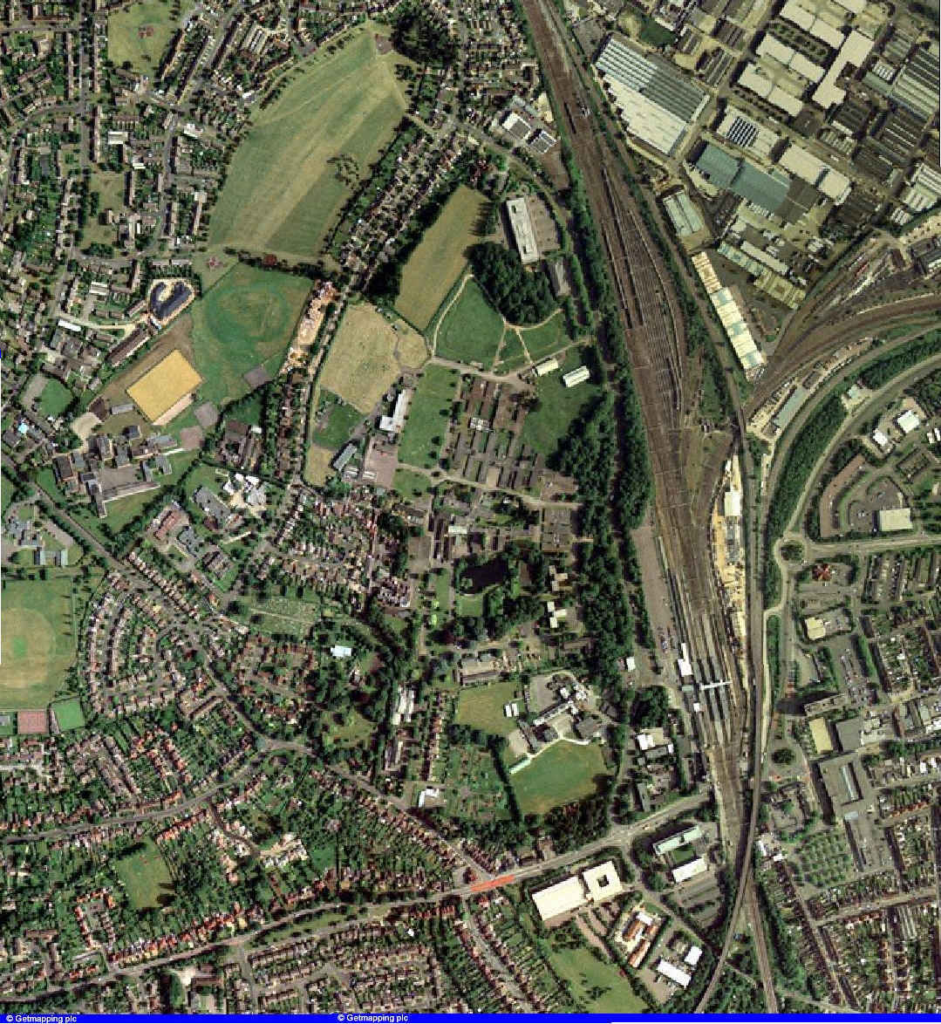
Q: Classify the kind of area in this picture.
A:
residential area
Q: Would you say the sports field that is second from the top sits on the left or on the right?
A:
left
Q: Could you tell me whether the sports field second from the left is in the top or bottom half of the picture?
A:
top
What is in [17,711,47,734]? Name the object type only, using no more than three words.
tennis court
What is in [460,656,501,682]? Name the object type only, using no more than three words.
house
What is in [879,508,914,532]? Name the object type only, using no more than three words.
building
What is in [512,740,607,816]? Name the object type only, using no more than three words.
sports field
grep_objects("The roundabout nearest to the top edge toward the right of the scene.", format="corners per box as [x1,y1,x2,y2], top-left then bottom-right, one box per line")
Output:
[776,535,808,566]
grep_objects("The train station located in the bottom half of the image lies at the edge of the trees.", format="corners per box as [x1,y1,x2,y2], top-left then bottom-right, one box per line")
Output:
[678,603,733,752]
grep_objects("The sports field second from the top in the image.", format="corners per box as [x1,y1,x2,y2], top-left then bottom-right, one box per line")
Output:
[0,580,78,707]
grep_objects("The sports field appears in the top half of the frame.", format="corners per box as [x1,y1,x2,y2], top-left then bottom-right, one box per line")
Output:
[194,265,311,406]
